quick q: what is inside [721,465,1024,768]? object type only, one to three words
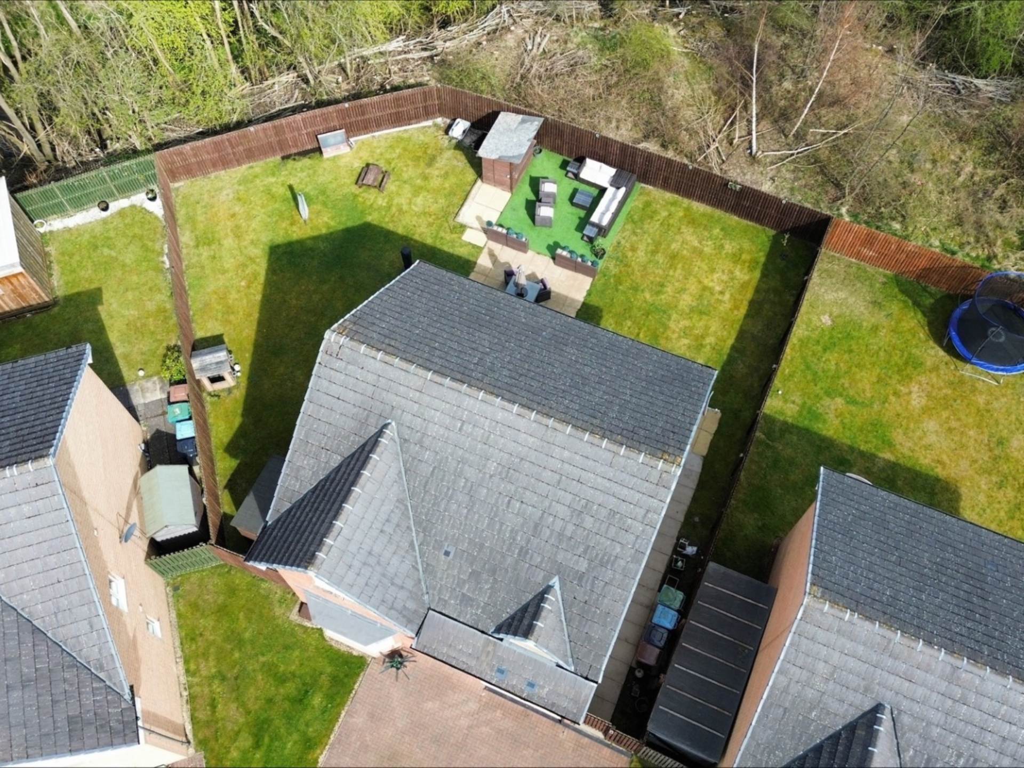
house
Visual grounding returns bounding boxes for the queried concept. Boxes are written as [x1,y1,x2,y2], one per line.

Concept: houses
[721,465,1024,768]
[0,343,191,768]
[244,259,719,727]
[0,168,53,325]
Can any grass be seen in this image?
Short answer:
Yes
